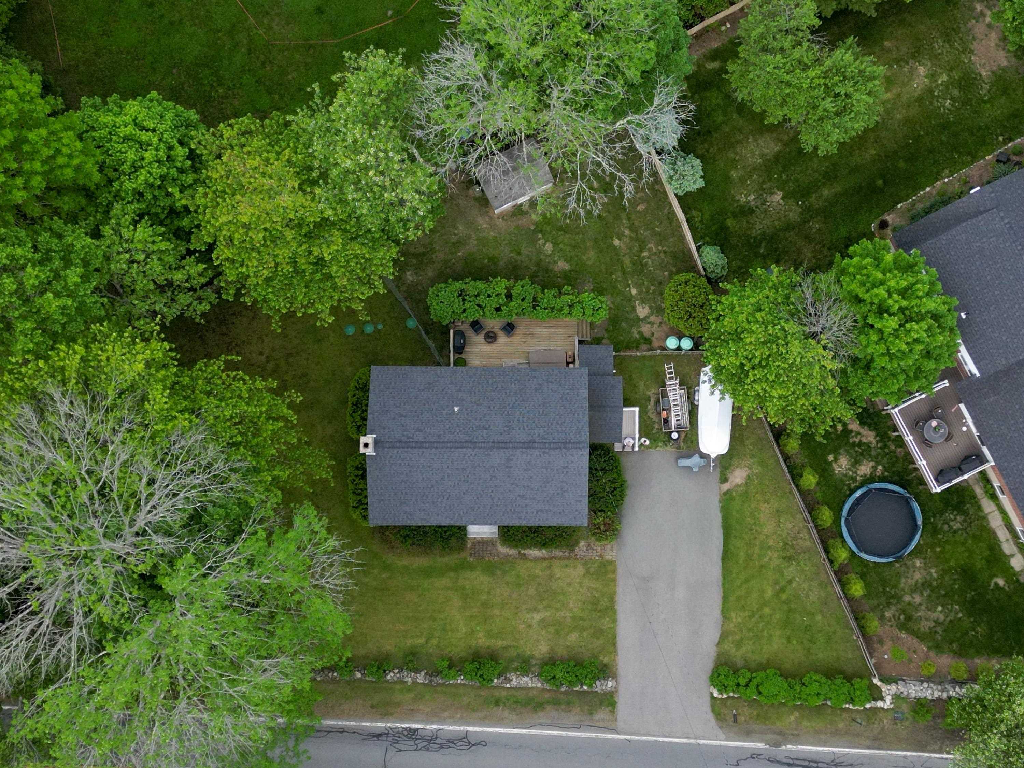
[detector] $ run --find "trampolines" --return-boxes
[838,482,923,563]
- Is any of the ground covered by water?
No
